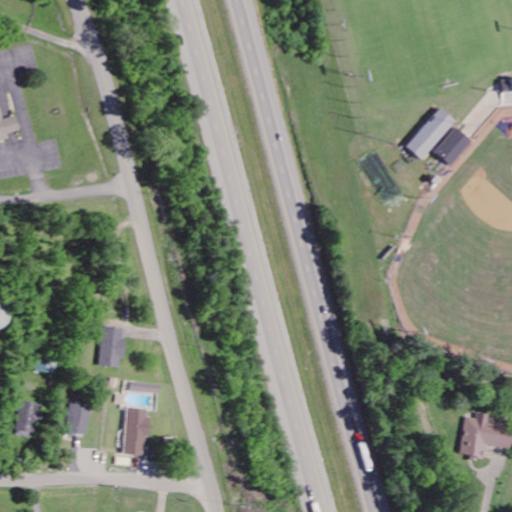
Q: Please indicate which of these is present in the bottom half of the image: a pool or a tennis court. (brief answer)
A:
pool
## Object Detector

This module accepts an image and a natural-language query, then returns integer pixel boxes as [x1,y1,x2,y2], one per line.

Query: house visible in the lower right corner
[460,410,512,460]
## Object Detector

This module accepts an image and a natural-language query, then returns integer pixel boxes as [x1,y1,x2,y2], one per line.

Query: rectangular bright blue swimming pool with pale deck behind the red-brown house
[115,381,159,411]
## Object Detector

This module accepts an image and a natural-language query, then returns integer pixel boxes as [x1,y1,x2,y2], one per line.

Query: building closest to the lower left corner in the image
[12,400,42,440]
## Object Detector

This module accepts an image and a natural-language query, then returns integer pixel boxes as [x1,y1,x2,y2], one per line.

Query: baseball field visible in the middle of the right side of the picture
[389,107,512,374]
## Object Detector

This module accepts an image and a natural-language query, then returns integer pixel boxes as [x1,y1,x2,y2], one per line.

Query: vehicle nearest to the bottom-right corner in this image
[356,433,372,473]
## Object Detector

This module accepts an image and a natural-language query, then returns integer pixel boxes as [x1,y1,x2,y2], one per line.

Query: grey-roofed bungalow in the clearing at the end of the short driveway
[98,326,124,368]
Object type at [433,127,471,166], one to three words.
building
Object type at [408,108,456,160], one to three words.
barn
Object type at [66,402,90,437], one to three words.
house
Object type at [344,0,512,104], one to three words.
sports field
